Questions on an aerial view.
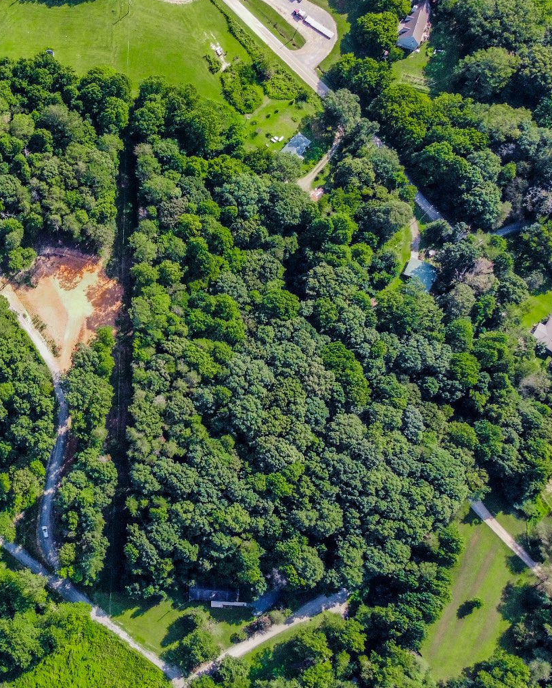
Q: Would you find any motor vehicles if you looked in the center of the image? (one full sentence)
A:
No, the scene shows no motor vehicle in the center of the image.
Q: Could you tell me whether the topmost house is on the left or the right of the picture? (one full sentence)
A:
The topmost house appears in the right half of the scene.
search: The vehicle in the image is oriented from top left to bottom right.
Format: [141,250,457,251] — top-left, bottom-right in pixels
[292,12,333,40]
